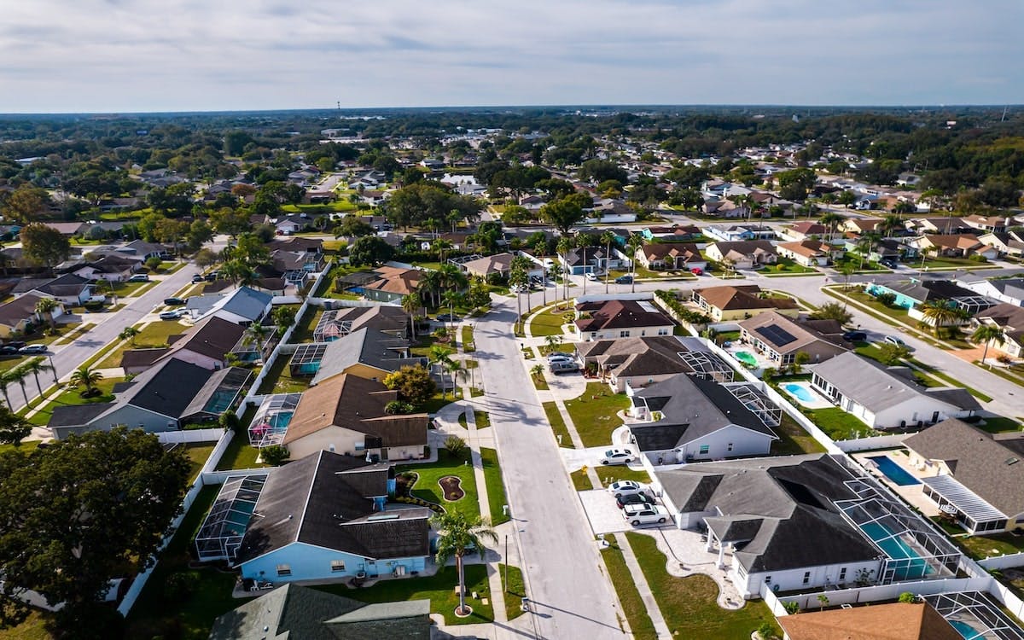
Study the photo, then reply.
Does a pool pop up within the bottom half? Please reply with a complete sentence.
Yes, there is a pool within the bottom half.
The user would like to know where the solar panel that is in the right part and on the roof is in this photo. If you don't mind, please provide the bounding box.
[759,321,798,342]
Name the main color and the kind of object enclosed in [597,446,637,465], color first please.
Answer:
white car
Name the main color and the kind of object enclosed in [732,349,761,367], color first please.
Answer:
green swimming pool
